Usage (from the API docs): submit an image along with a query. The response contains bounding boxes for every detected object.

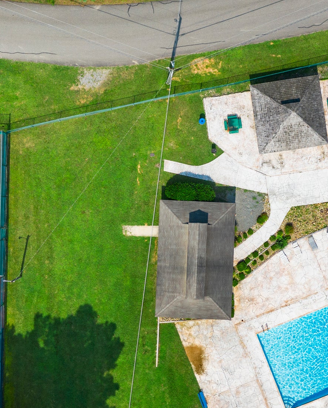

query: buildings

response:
[155,199,237,321]
[249,74,328,154]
